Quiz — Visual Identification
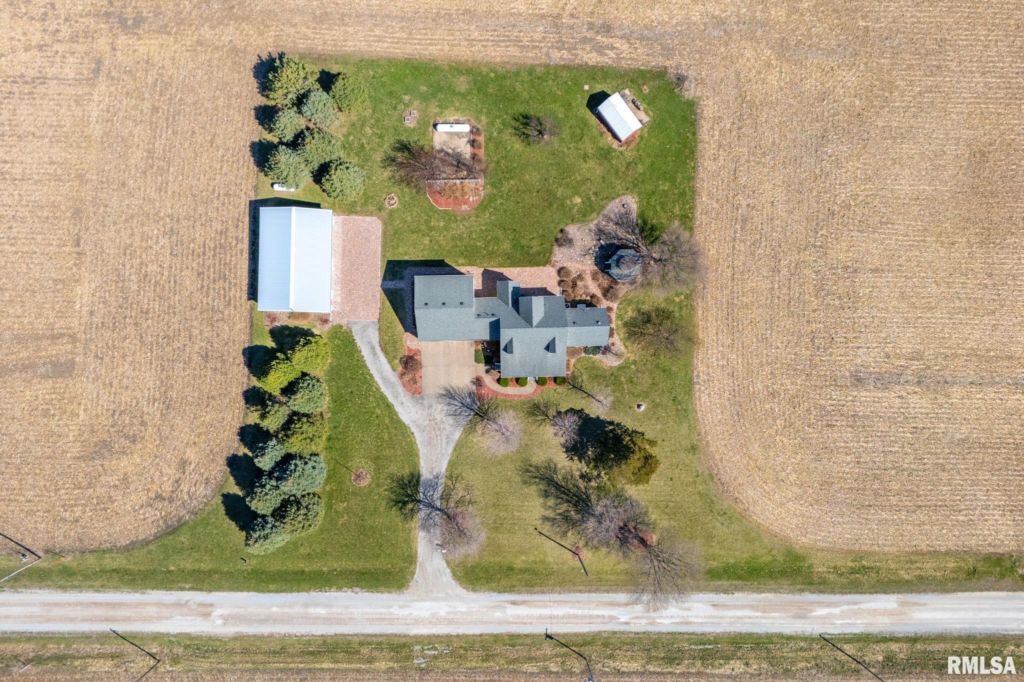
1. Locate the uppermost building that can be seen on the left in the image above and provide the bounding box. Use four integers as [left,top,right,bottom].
[257,207,337,322]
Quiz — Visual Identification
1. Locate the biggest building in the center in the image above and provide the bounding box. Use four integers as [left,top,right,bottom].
[414,274,610,382]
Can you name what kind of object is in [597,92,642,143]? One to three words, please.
shed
